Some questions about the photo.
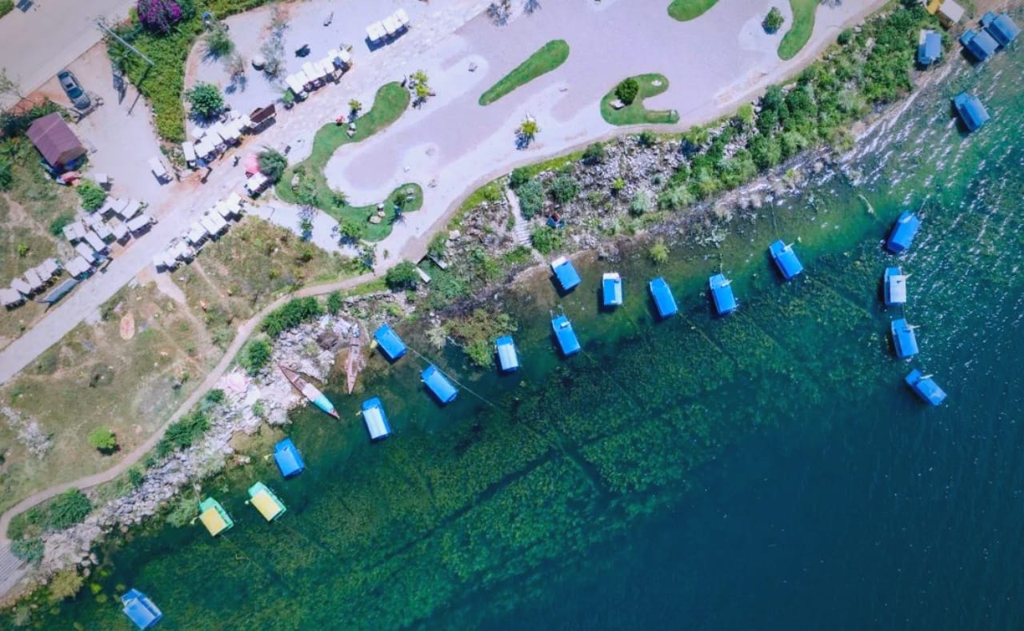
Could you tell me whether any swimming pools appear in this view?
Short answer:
No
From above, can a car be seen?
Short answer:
Yes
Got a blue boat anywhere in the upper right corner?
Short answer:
Yes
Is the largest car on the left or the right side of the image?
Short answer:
left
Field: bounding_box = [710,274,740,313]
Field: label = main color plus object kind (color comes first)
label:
blue boat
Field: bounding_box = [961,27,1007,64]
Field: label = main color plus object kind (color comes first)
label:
blue boat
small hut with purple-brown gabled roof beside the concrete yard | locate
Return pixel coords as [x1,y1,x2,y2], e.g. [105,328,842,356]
[27,111,86,167]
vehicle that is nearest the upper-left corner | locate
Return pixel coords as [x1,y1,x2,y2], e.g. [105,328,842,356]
[56,68,92,110]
